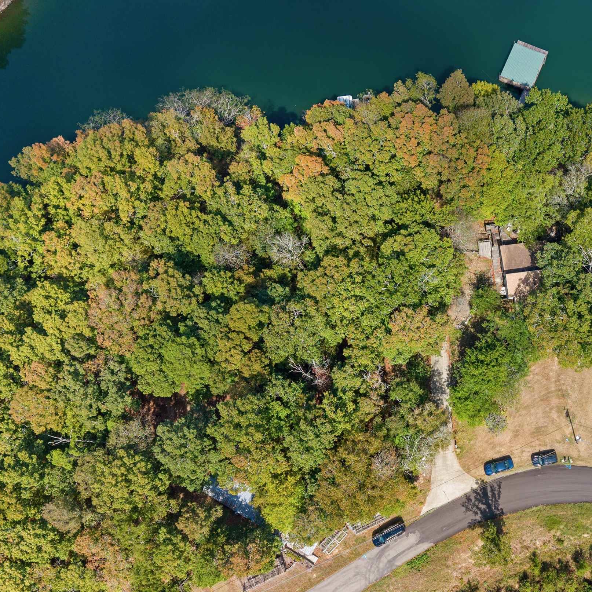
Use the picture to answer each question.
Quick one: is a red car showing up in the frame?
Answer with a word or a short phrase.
No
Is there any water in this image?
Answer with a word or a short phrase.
Yes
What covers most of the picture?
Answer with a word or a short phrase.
trees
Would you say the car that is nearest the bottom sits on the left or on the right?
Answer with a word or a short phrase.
right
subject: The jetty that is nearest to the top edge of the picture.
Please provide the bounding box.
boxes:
[500,40,548,91]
